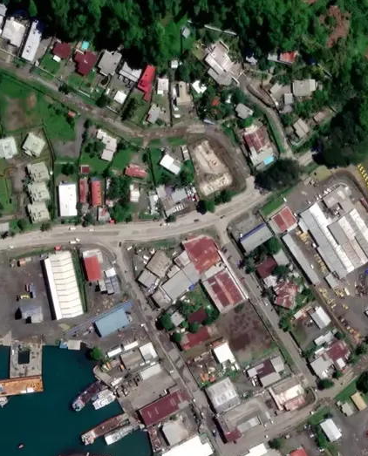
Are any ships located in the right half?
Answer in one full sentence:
No, I see no ship in the right half.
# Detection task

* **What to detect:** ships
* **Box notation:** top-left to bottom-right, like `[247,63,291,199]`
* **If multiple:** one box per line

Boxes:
[0,376,43,396]
[80,415,128,443]
[92,396,114,411]
[72,383,108,409]
[93,390,113,403]
[103,425,132,445]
